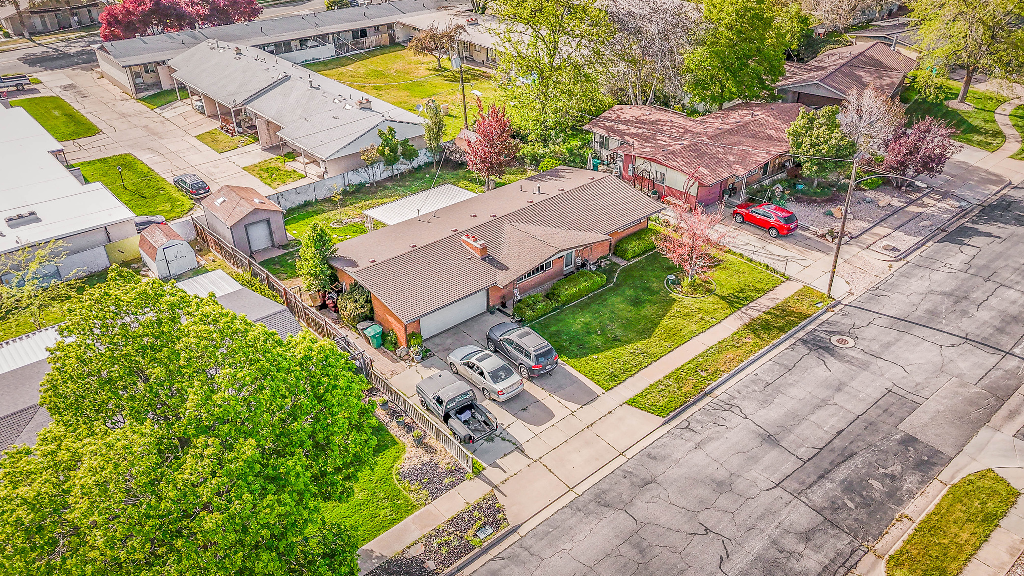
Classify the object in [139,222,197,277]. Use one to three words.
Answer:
shed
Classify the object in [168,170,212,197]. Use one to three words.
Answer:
car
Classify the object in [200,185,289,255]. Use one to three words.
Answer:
shed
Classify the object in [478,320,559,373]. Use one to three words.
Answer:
car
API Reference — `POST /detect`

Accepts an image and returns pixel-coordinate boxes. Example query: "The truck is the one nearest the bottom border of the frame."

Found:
[409,374,502,446]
